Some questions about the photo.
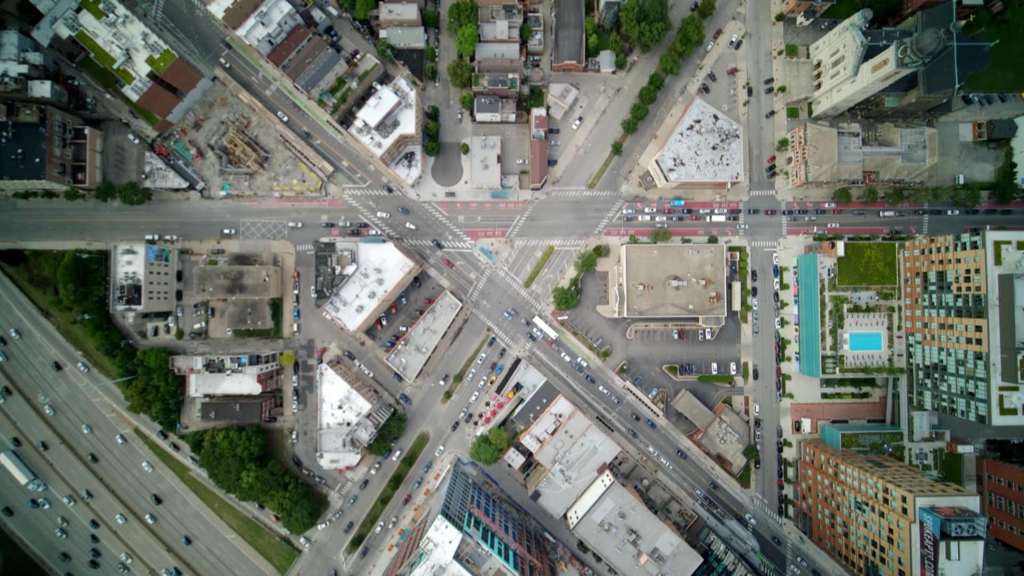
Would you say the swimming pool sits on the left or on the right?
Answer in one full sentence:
You can find the swimming pool on the right side of the picture.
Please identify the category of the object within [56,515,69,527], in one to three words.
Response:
vehicle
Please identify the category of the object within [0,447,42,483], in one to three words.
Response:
truck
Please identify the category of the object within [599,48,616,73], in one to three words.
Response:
shed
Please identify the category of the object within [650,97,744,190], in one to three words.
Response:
building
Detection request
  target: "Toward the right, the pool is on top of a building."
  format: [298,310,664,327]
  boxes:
[842,330,884,352]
